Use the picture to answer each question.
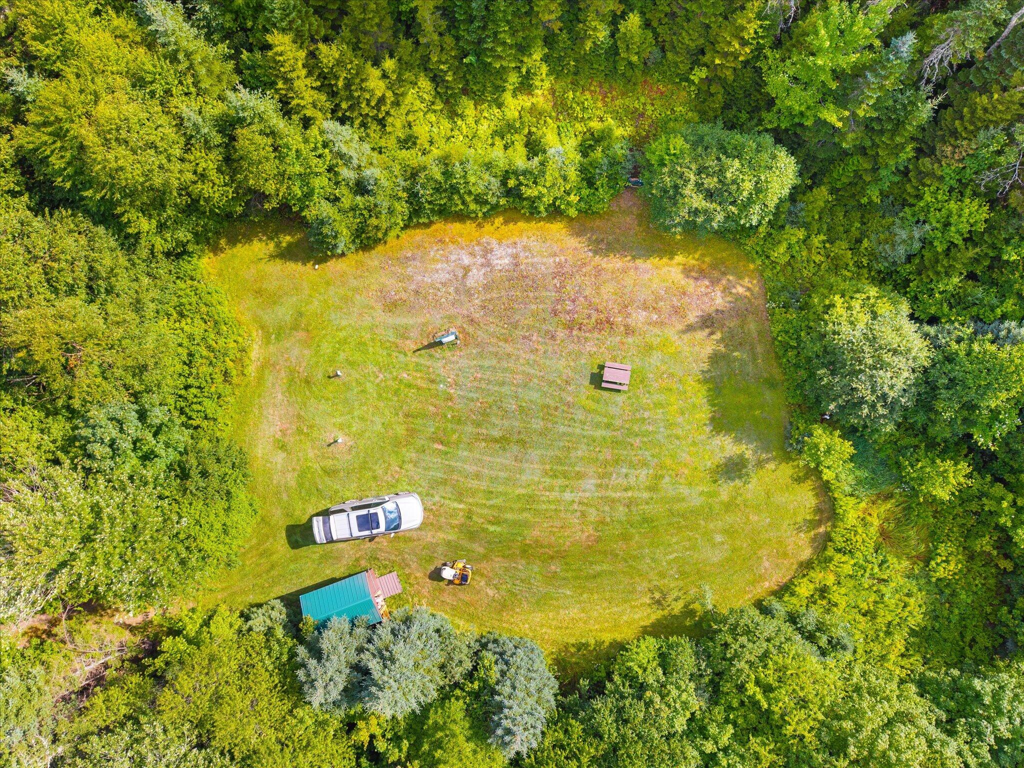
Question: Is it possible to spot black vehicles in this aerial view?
No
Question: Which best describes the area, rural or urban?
rural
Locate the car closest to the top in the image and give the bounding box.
[313,490,427,543]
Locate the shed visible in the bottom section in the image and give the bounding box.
[298,567,403,643]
